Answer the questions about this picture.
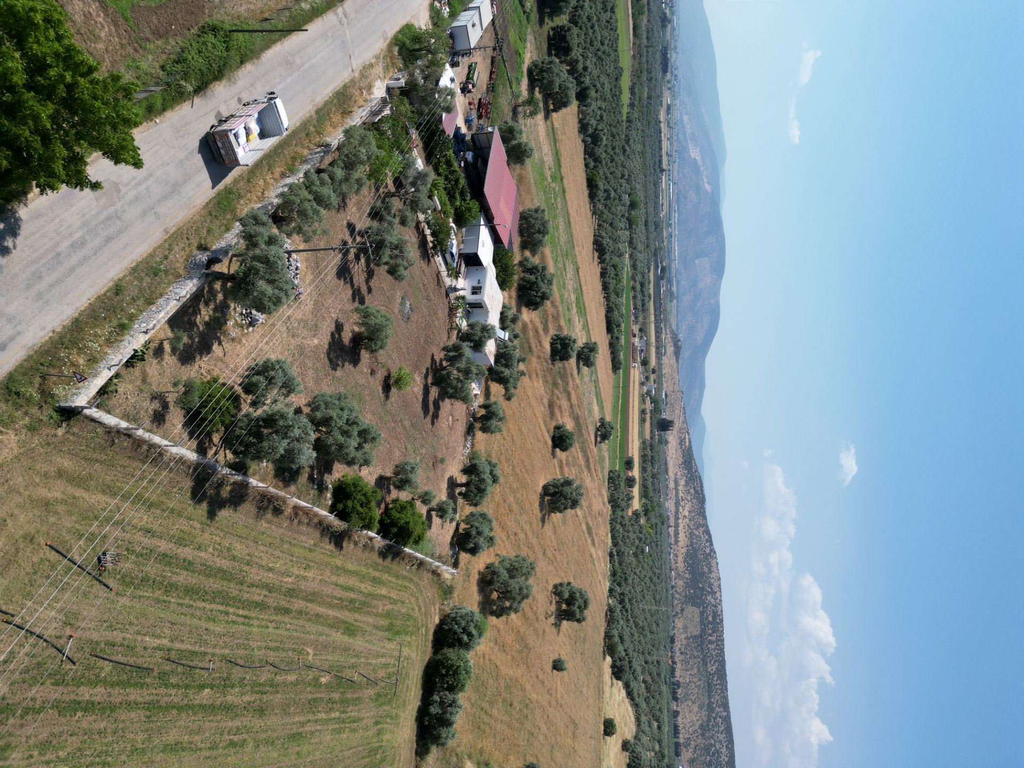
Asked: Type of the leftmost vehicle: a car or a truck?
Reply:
truck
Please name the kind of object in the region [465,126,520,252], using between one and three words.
shed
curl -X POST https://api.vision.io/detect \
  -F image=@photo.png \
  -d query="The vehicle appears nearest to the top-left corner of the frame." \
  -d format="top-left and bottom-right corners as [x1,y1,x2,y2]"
[209,95,292,166]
